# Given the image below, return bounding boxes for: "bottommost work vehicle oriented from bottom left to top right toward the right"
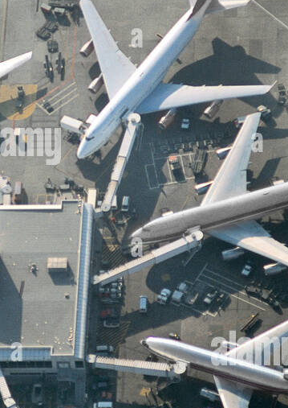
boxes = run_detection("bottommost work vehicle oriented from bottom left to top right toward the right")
[241,313,260,333]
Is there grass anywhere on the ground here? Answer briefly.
No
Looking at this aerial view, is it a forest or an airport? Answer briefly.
airport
